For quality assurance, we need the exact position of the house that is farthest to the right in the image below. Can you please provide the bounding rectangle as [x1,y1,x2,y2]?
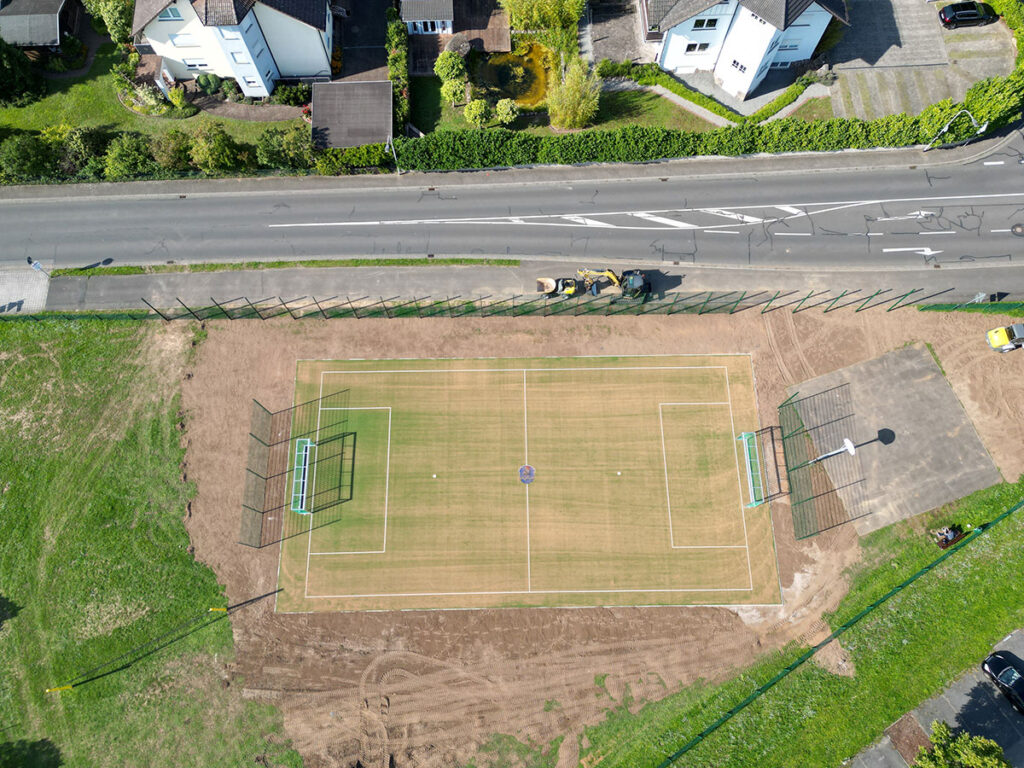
[627,0,845,101]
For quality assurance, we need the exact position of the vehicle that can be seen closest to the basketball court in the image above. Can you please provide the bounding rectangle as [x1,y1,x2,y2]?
[980,320,1024,355]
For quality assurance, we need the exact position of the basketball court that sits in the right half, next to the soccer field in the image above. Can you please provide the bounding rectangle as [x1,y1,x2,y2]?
[785,343,1004,537]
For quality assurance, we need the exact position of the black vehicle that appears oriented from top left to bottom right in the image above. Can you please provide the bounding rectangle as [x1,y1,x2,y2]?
[982,653,1024,718]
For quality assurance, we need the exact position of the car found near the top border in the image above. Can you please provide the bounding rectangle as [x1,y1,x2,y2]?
[937,1,990,30]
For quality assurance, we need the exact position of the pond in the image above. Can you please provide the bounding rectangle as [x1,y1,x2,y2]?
[482,47,552,107]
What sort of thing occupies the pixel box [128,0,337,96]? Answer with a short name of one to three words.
house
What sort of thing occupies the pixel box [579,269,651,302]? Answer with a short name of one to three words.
work vehicle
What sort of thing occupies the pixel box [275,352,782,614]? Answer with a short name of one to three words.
soccer field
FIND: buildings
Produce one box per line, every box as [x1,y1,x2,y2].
[0,0,74,61]
[627,0,845,101]
[128,0,337,96]
[312,80,396,161]
[400,0,454,33]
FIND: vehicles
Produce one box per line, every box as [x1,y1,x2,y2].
[937,1,990,30]
[980,320,1024,355]
[579,269,651,302]
[982,653,1024,718]
[538,276,576,302]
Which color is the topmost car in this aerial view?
black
